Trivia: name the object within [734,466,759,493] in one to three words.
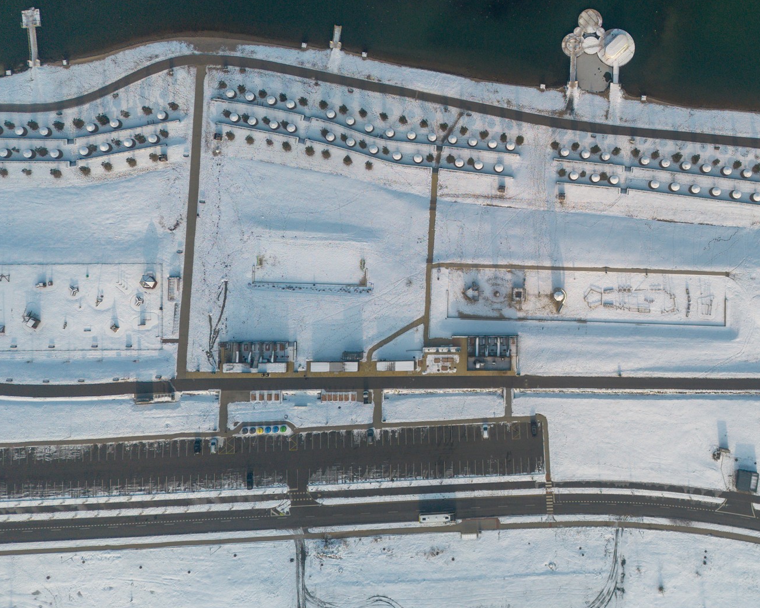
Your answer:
shed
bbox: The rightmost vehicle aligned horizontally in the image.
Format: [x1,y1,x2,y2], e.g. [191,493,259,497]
[419,511,460,523]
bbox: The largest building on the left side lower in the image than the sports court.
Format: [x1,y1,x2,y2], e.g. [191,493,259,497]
[219,340,299,372]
